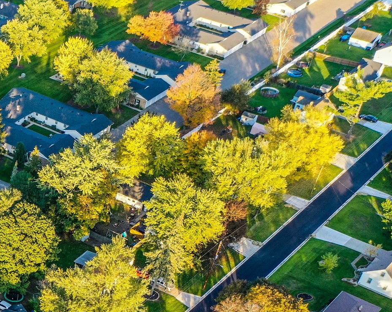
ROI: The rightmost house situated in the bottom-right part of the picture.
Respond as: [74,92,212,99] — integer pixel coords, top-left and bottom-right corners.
[358,246,392,294]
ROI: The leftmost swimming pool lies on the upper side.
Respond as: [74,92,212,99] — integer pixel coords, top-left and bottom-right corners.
[260,84,282,96]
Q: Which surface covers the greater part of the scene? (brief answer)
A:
trees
